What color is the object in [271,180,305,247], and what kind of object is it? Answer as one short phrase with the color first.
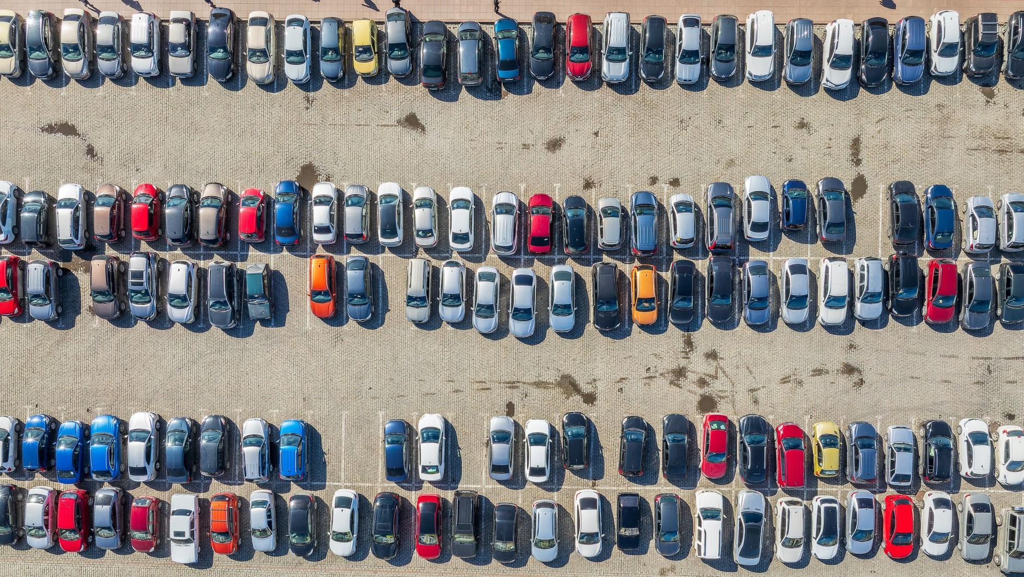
blue car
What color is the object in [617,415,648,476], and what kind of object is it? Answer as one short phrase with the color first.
black car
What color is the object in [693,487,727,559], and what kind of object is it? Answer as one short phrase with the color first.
white car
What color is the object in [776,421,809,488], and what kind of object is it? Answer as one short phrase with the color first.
red car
